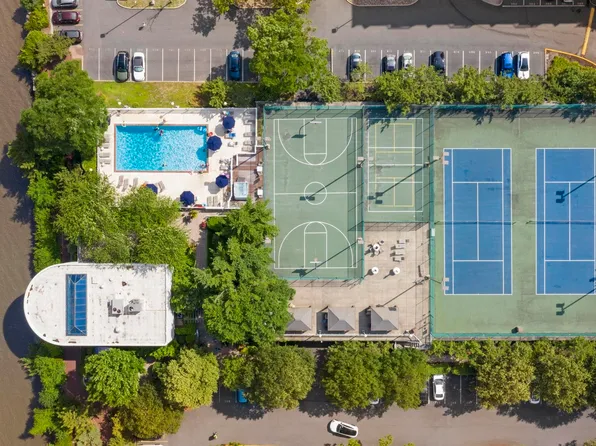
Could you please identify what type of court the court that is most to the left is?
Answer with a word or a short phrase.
basketball court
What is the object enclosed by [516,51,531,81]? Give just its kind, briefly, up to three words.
car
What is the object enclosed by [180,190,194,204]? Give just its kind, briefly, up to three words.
umbrella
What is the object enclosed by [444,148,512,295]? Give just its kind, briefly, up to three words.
tennis court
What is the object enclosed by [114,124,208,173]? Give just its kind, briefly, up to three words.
swimming pool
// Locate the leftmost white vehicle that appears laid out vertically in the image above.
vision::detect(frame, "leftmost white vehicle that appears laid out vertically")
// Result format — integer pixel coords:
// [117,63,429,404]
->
[132,51,145,82]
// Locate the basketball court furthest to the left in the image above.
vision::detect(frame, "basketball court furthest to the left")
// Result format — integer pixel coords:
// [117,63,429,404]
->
[264,109,361,278]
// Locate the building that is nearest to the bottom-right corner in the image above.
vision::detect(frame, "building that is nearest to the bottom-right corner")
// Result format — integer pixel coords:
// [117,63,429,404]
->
[370,305,398,332]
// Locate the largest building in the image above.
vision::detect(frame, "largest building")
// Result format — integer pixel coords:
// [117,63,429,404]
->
[23,259,174,352]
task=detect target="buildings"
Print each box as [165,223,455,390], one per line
[23,259,174,352]
[327,305,355,332]
[370,305,398,332]
[285,305,312,332]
